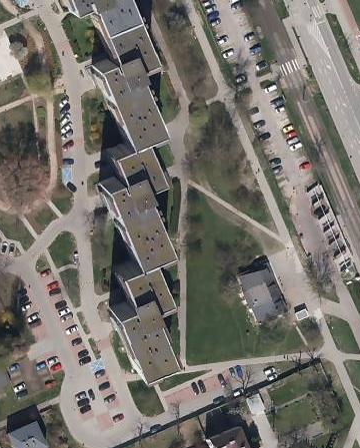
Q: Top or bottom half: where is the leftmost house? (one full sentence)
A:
The bottom half of the photo is where the leftmost house is.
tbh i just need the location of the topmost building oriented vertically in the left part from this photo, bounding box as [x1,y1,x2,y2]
[64,0,180,385]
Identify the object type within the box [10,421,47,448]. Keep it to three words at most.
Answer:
house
